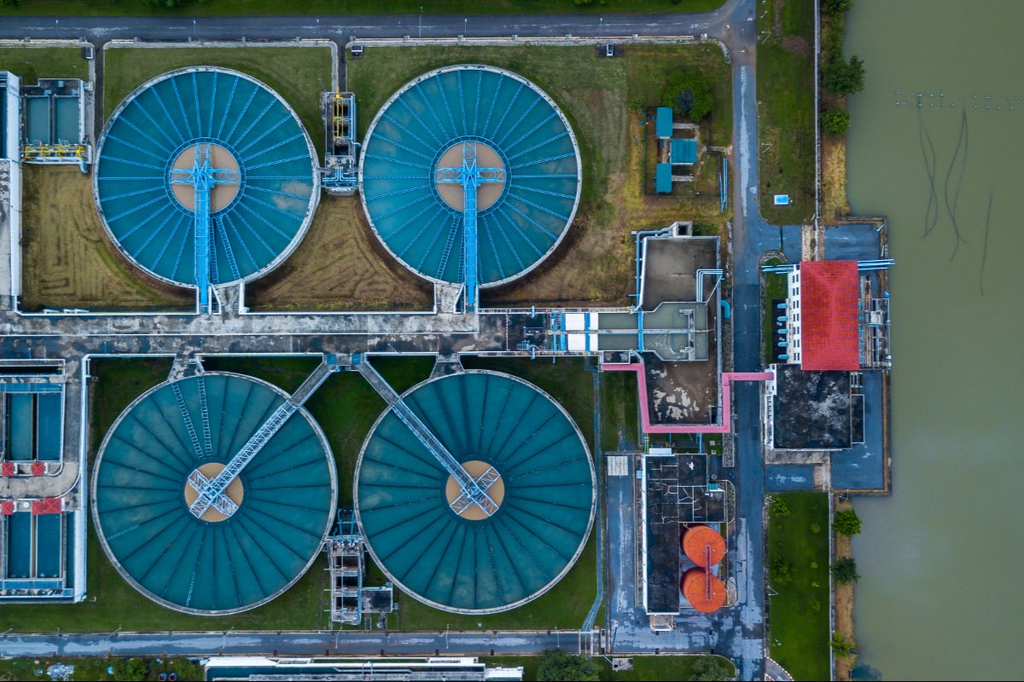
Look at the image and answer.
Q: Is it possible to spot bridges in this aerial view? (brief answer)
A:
Yes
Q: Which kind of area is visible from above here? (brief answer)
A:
industrial area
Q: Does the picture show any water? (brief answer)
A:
Yes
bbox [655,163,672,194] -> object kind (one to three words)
shed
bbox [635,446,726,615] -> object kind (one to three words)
building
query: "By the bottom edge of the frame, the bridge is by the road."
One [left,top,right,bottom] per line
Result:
[578,628,606,655]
